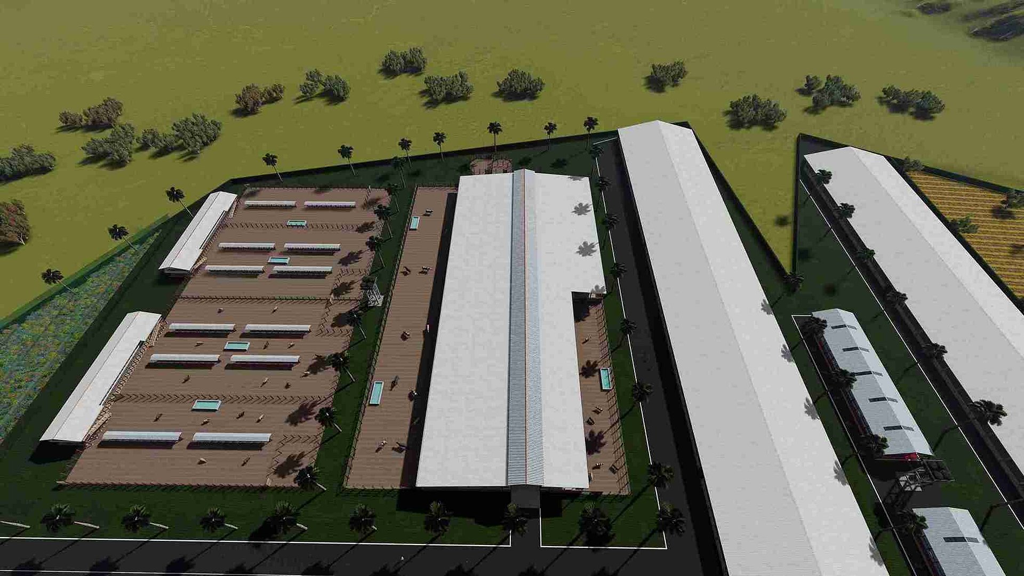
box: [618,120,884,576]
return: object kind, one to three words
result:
barn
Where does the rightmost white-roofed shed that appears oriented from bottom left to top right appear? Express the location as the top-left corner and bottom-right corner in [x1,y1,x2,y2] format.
[161,192,238,275]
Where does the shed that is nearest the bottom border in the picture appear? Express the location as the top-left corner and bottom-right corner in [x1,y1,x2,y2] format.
[913,506,1004,576]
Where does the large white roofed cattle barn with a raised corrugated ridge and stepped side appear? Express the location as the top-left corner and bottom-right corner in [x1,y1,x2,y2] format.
[418,167,605,513]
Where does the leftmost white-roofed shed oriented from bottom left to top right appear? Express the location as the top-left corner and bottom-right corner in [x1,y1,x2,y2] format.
[42,312,163,445]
